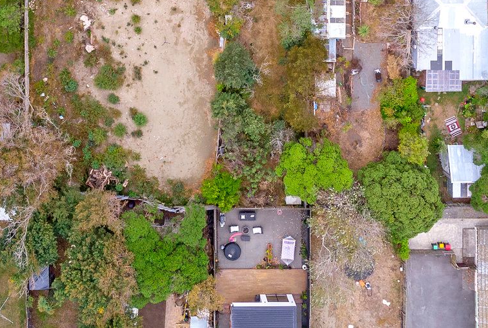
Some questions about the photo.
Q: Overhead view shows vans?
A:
No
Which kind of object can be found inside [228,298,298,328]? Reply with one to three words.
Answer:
house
